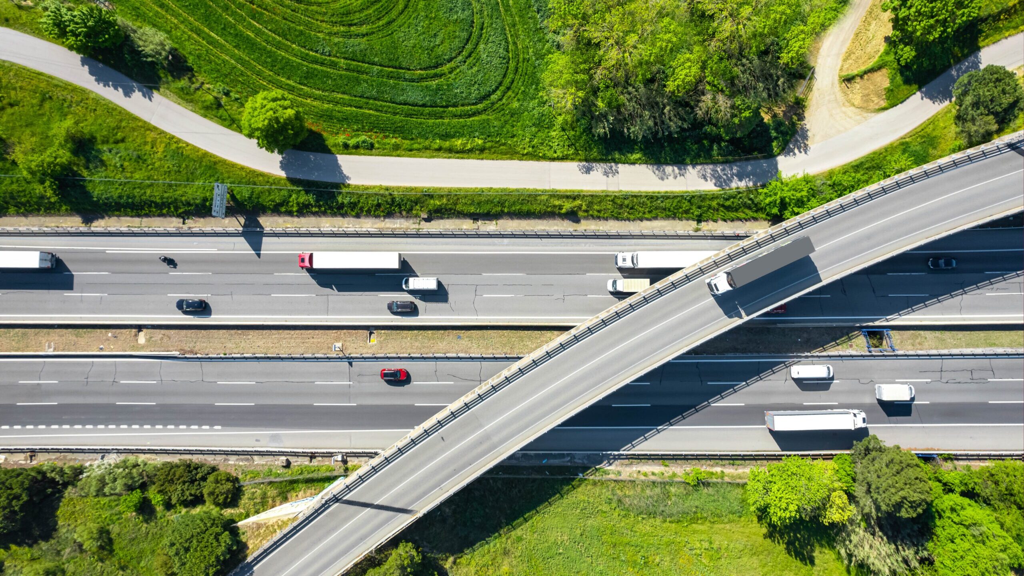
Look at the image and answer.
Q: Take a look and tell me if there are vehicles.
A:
Yes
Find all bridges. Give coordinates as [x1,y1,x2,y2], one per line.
[232,131,1024,576]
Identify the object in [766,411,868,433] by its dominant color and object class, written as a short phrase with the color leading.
white truck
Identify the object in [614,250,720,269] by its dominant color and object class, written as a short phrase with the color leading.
white vehicle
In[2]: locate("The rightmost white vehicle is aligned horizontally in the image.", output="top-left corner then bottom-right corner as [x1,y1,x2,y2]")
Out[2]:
[872,384,911,401]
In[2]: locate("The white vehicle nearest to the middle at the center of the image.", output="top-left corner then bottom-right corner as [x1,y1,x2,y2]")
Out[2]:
[404,276,439,291]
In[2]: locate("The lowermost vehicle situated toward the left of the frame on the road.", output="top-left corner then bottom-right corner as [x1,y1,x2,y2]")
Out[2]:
[381,368,408,380]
